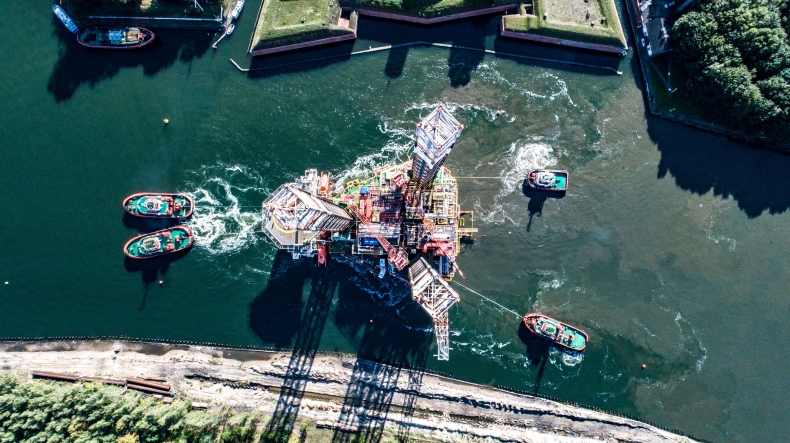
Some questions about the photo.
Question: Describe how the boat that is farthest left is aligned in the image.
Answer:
on a diagonal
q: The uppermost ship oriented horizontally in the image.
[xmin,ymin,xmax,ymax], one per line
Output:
[77,26,157,49]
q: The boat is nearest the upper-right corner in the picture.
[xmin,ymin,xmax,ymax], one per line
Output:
[526,168,569,191]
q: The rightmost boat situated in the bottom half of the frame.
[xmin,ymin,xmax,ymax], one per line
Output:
[522,311,591,353]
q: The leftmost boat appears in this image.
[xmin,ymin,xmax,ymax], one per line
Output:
[52,4,79,34]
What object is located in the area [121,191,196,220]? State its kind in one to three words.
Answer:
boat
